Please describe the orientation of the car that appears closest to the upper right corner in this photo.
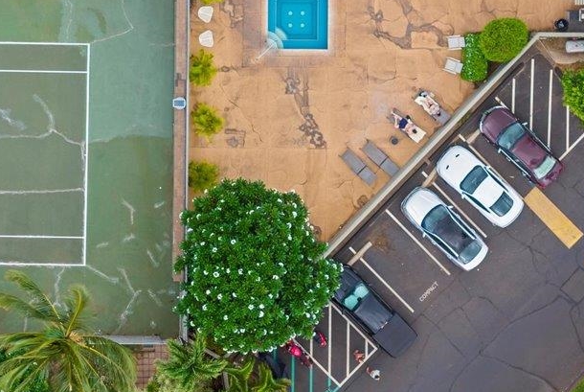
at an angle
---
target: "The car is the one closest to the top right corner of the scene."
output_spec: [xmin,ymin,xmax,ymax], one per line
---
[477,108,568,192]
